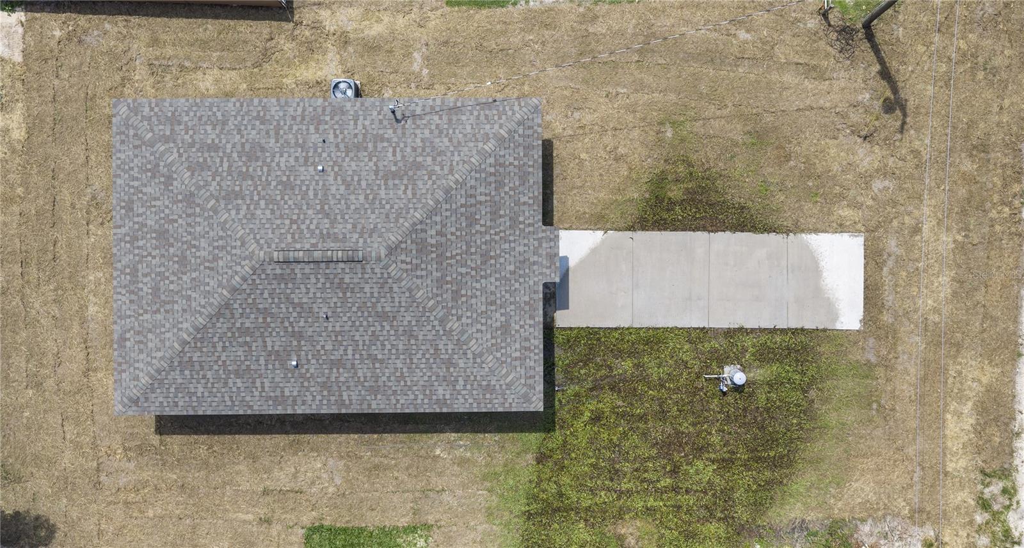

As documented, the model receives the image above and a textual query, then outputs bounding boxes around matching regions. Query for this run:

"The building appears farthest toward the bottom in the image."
[112,97,559,415]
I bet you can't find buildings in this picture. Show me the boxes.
[84,0,292,20]
[112,97,559,415]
